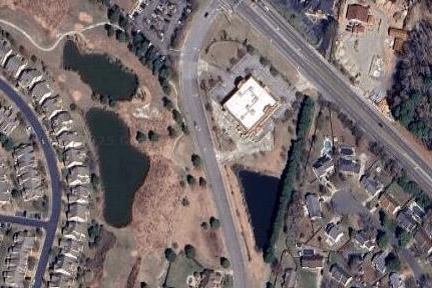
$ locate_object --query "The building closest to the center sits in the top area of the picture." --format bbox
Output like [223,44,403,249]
[224,75,276,129]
